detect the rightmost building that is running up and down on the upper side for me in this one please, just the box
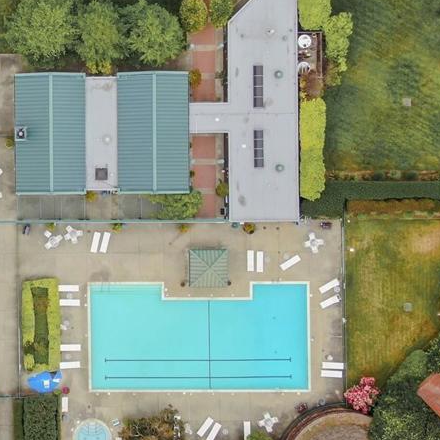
[190,0,300,223]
